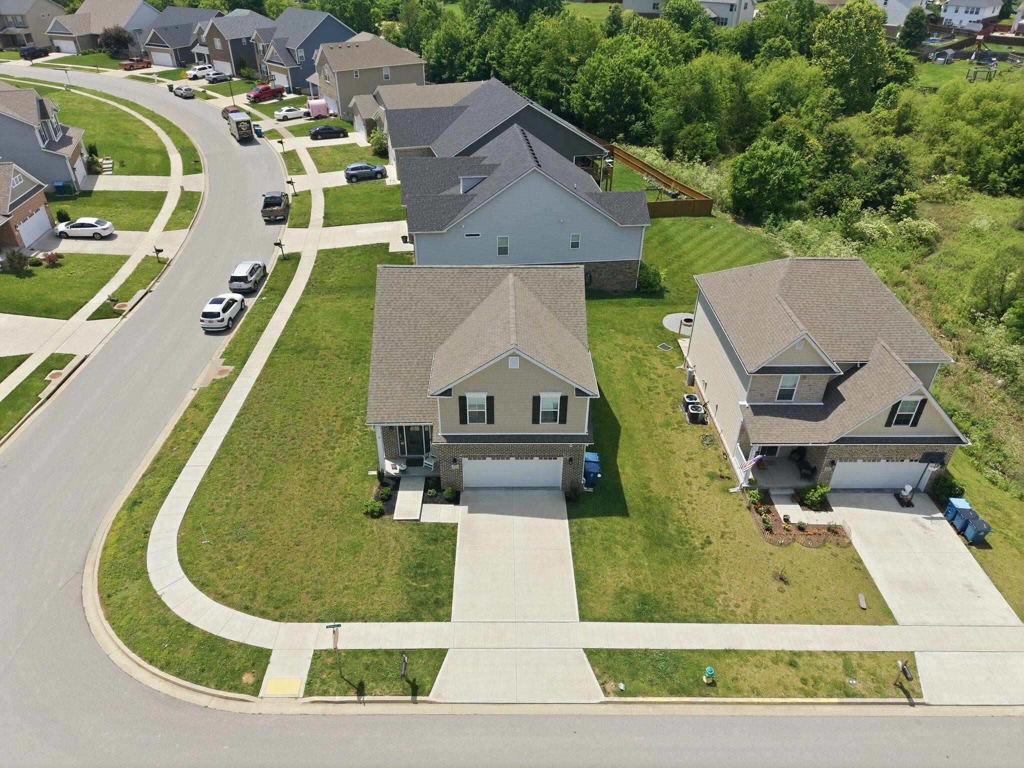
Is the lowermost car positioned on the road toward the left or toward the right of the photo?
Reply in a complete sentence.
The lowermost car positioned on the road appears in the left half of the scene.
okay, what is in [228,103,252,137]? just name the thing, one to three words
truck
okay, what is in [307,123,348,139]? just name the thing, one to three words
car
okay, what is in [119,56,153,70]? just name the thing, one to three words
vehicle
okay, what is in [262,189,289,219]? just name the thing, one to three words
truck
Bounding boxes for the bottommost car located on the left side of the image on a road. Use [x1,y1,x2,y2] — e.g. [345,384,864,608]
[198,293,246,330]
